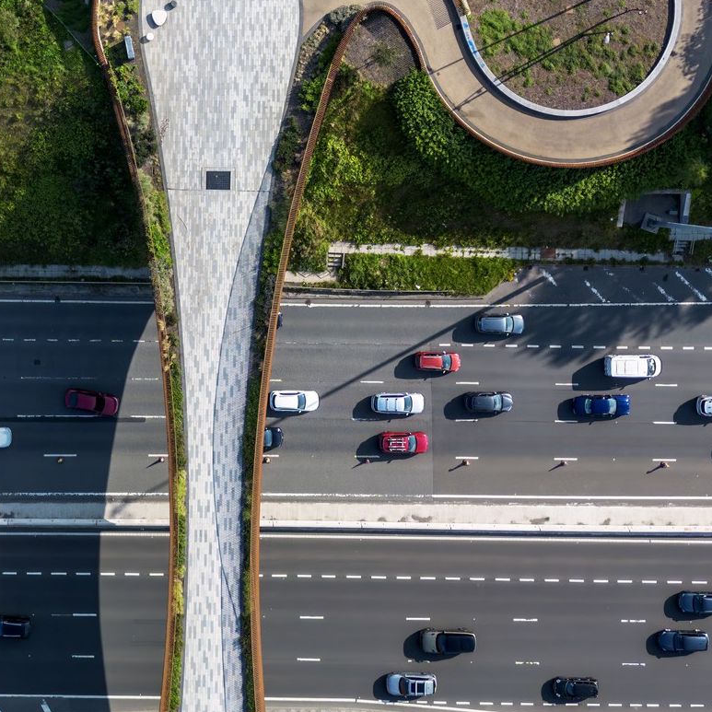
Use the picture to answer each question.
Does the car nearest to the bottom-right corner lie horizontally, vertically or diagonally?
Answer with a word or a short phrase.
horizontally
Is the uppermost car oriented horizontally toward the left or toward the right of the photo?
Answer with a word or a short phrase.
right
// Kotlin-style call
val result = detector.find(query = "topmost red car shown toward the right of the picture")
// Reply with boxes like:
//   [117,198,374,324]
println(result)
[414,350,460,376]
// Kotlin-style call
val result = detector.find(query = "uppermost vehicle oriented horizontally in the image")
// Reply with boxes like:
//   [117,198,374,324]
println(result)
[474,312,523,336]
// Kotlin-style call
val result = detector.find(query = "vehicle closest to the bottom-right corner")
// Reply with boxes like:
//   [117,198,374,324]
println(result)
[655,628,709,654]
